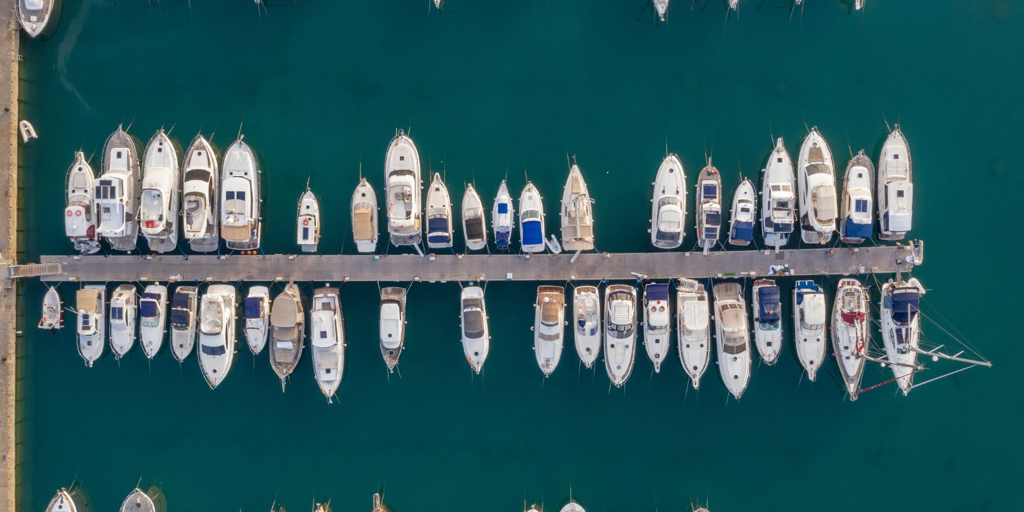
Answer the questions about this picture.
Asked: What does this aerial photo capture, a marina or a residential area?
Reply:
marina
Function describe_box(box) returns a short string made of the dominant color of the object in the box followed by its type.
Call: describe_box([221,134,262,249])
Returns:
white boat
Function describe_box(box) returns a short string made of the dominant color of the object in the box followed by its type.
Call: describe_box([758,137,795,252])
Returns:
white boat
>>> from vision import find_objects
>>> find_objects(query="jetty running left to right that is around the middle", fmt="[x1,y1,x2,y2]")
[40,243,912,284]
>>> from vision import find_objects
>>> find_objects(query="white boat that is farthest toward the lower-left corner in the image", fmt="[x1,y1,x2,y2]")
[46,486,80,512]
